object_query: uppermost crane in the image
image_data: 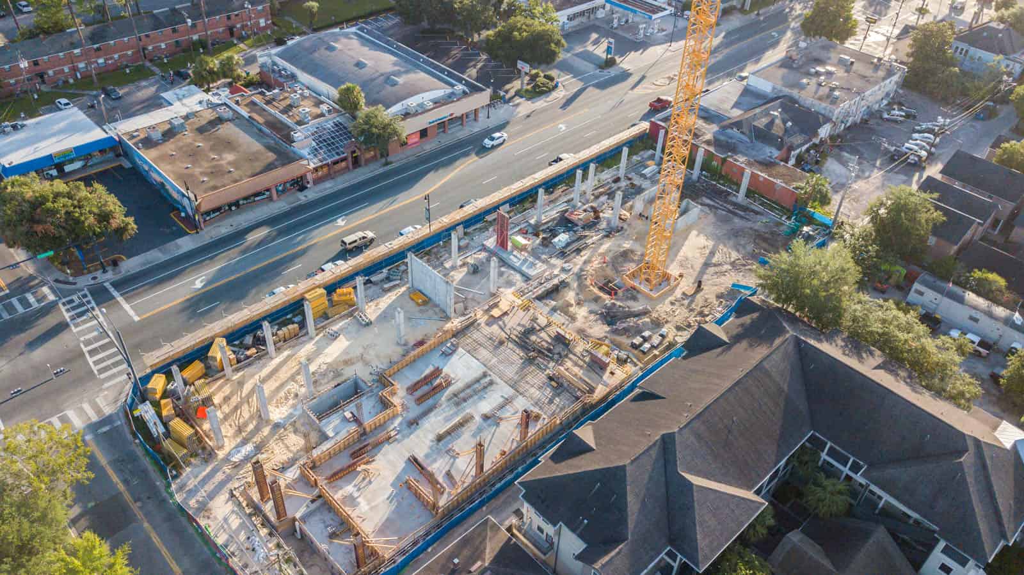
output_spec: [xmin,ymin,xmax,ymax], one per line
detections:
[637,0,717,288]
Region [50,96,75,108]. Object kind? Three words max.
vehicle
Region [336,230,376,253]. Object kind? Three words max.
vehicle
